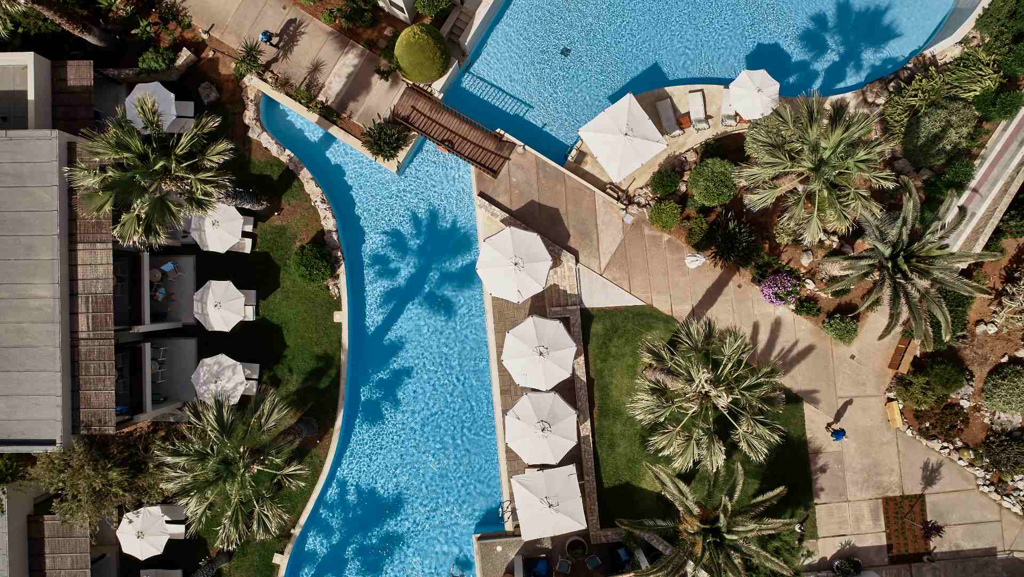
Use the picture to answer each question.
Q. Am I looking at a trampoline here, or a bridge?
bridge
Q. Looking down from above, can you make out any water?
Yes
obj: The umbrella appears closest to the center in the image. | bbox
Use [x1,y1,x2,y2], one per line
[474,225,553,303]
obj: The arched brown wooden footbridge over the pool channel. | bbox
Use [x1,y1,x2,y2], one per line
[385,77,528,190]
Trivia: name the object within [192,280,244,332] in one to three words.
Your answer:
umbrella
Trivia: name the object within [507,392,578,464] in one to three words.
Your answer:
umbrella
